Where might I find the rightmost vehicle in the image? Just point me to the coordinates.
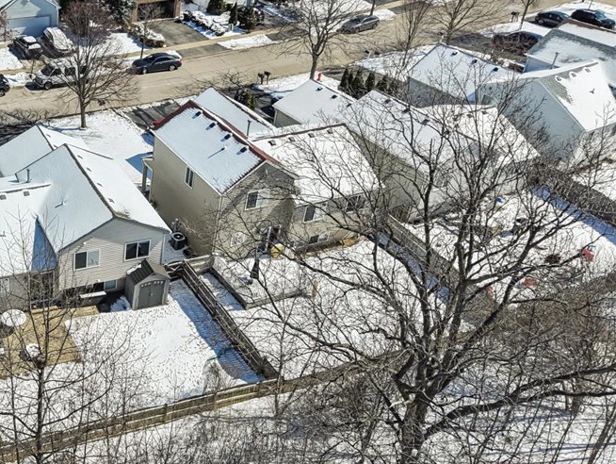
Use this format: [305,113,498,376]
[567,6,616,28]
